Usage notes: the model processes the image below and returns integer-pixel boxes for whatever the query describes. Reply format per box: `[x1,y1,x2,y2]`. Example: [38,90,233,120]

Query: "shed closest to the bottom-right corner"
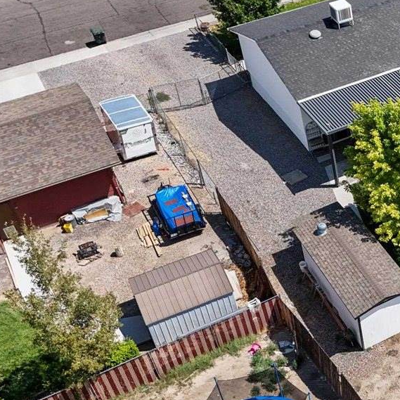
[288,205,400,351]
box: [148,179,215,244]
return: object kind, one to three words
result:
trailer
